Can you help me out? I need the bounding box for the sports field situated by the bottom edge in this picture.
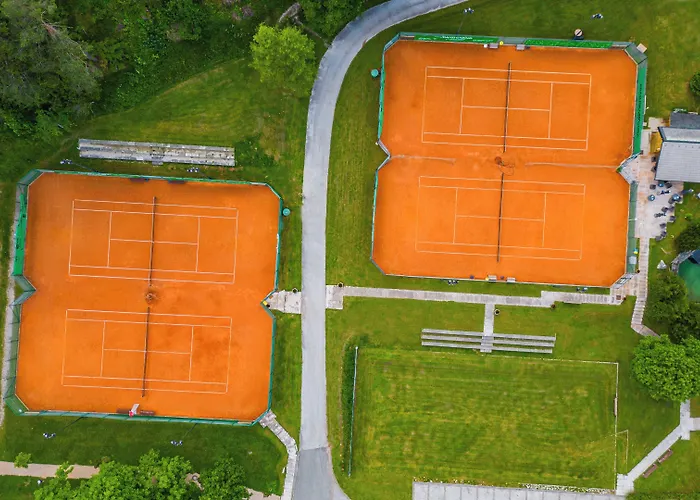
[349,350,628,489]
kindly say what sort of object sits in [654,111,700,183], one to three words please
building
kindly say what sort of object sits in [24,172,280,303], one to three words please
tennis court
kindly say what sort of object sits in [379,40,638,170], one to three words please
tennis court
